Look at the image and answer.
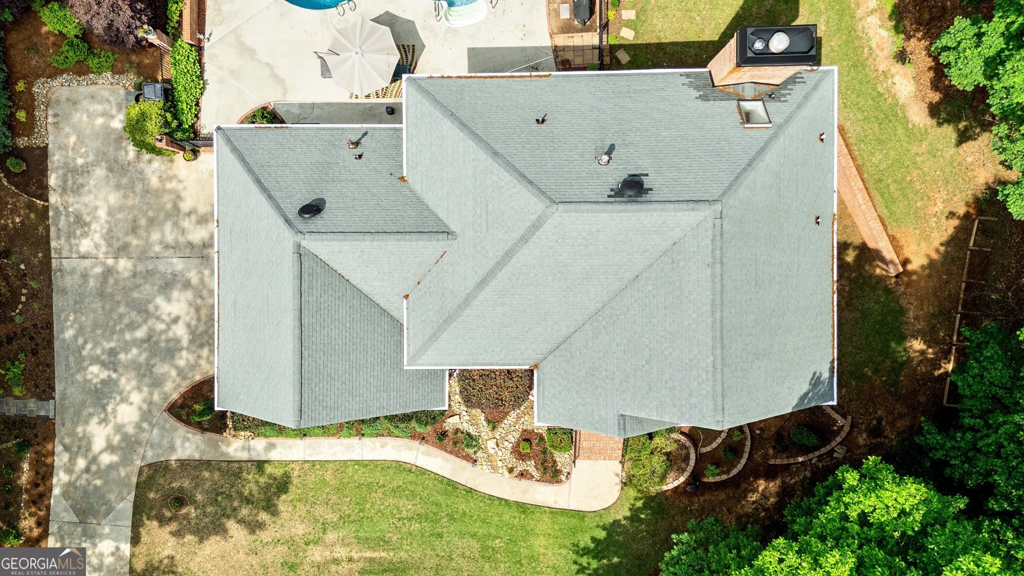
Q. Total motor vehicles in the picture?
0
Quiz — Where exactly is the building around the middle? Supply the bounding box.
[213,25,839,438]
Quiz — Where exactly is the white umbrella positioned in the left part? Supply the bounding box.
[310,17,400,97]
